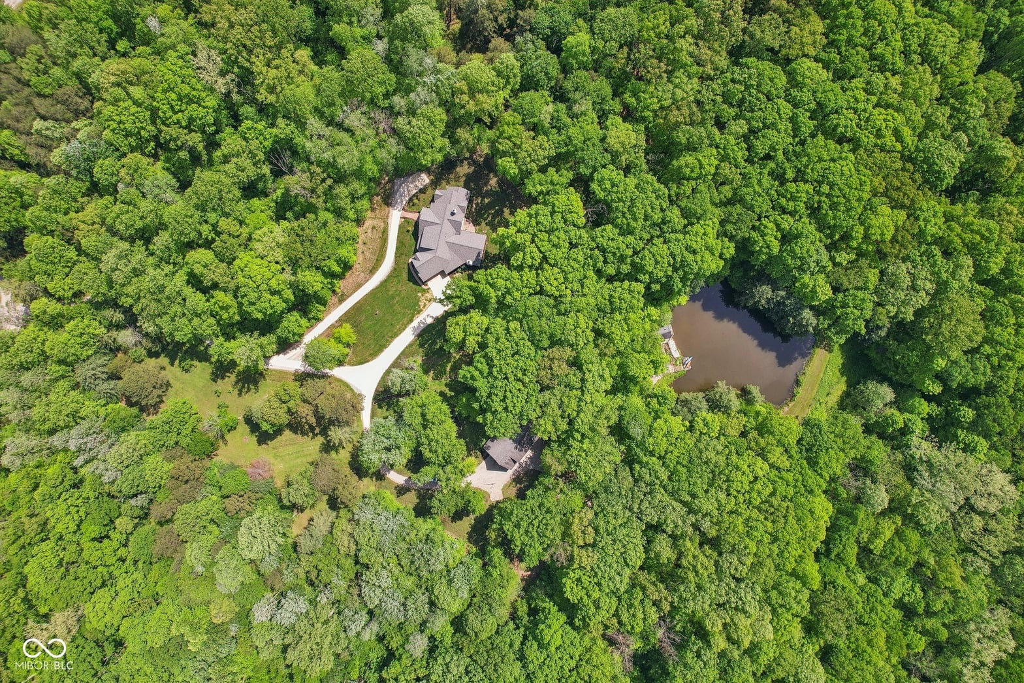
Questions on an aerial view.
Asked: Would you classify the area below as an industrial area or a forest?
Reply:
forest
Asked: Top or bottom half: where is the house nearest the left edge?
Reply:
top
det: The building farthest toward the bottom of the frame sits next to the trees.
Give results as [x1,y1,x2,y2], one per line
[486,424,534,470]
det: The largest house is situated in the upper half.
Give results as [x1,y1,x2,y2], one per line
[410,184,488,283]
